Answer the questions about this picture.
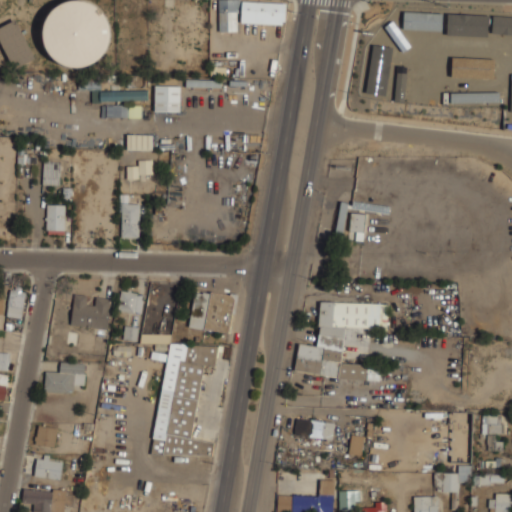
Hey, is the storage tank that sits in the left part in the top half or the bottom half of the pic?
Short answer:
top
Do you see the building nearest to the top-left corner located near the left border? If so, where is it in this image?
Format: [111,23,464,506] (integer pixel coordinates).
[0,21,34,68]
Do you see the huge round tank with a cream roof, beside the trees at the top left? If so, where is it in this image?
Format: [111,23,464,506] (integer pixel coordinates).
[42,0,111,68]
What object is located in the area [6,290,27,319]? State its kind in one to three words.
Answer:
house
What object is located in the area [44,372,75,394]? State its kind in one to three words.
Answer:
house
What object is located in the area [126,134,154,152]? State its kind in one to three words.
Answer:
building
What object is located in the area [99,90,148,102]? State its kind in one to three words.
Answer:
shed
